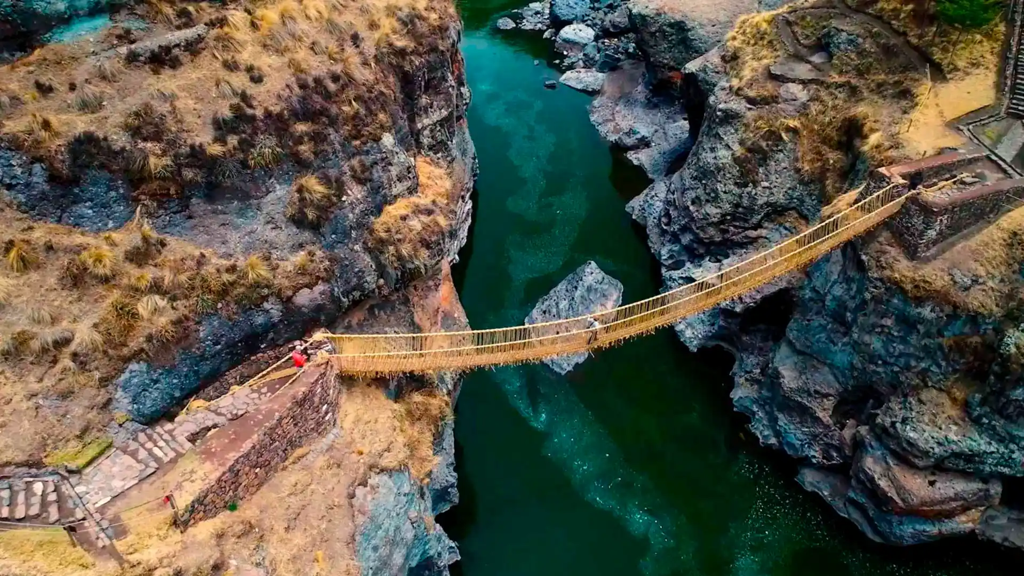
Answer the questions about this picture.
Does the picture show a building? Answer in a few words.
No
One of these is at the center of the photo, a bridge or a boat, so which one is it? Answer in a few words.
bridge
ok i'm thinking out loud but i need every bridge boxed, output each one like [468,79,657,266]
[309,176,921,383]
